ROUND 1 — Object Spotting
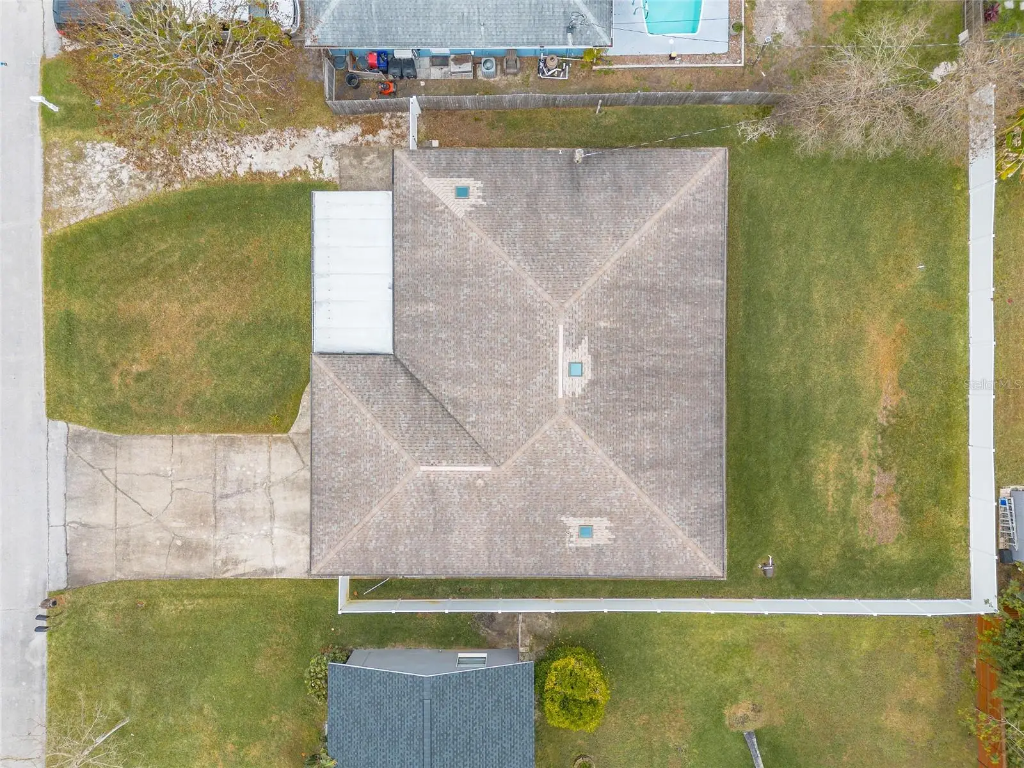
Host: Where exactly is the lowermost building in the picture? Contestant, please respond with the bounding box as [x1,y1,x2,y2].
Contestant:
[323,650,533,768]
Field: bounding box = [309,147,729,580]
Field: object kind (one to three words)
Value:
house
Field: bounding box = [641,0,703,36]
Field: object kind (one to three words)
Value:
swimming pool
